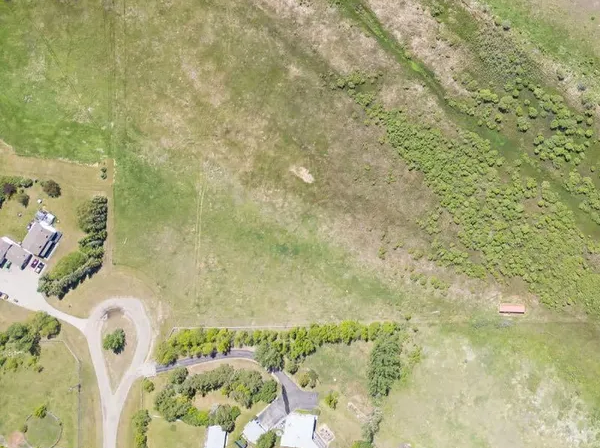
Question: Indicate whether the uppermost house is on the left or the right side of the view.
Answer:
left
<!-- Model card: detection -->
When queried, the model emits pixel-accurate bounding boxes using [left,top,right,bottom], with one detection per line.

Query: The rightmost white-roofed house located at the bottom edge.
[281,412,323,448]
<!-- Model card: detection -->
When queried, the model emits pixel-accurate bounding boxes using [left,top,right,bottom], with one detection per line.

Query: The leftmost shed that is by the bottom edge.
[207,424,228,448]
